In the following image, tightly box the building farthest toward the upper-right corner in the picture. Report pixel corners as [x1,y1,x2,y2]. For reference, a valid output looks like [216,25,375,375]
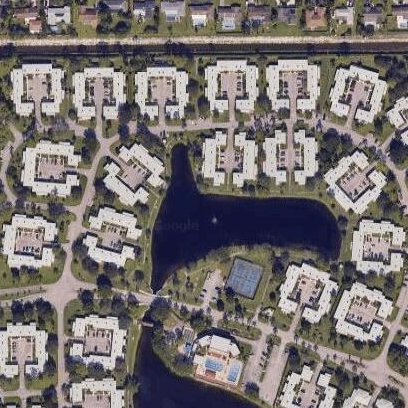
[392,6,408,28]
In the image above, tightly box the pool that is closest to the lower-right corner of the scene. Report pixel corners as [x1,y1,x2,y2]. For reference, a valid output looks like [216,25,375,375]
[227,361,240,382]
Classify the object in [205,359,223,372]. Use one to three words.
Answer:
swimming pool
